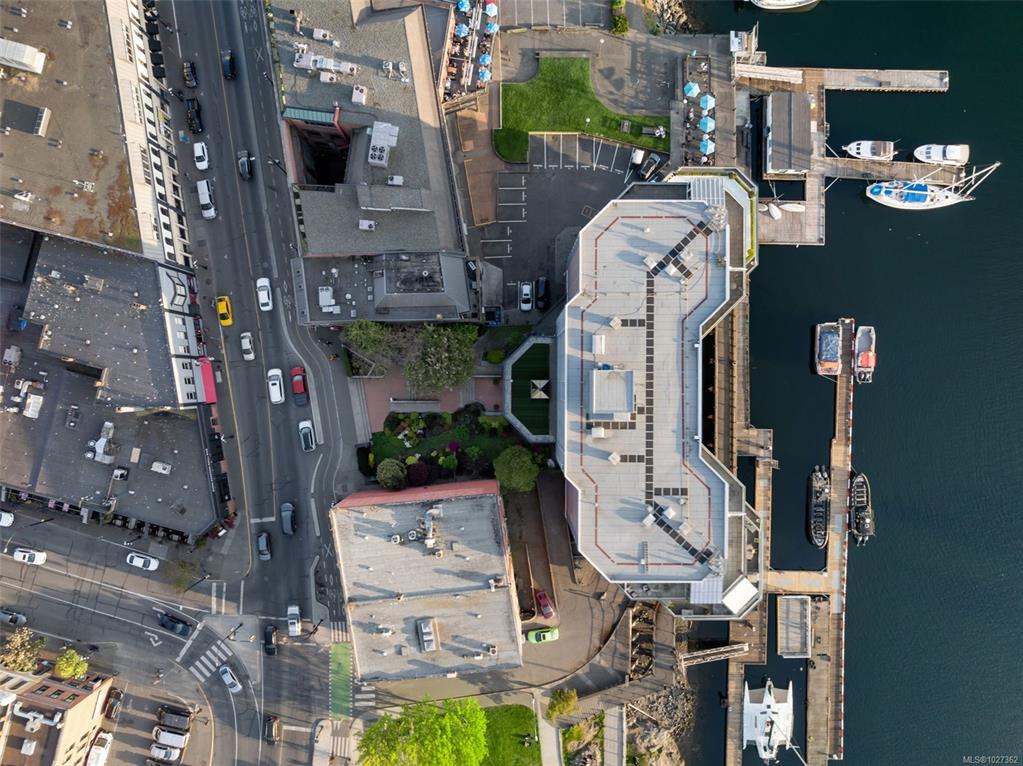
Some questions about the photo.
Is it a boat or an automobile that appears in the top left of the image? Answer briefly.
automobile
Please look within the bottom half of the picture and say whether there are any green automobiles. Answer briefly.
Yes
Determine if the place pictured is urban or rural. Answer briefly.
urban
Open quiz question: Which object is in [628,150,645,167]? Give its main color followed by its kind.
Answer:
white car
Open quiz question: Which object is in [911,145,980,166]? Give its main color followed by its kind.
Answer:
white boat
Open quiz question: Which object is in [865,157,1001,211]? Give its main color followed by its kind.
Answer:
white boat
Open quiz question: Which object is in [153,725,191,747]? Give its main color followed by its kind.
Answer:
white vehicle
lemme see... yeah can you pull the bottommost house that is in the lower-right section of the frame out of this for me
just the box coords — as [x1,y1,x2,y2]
[775,594,810,659]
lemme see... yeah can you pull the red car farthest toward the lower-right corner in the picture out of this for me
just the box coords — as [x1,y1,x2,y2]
[535,588,554,619]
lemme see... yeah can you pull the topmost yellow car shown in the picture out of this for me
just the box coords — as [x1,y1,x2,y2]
[217,295,235,328]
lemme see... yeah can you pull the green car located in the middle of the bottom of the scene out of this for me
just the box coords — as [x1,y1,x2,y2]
[525,625,559,642]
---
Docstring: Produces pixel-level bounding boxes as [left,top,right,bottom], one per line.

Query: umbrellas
[486,5,498,21]
[699,140,713,155]
[456,25,469,42]
[480,70,491,85]
[699,95,713,111]
[480,54,491,69]
[699,118,713,133]
[458,0,469,16]
[487,22,499,39]
[683,82,699,99]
